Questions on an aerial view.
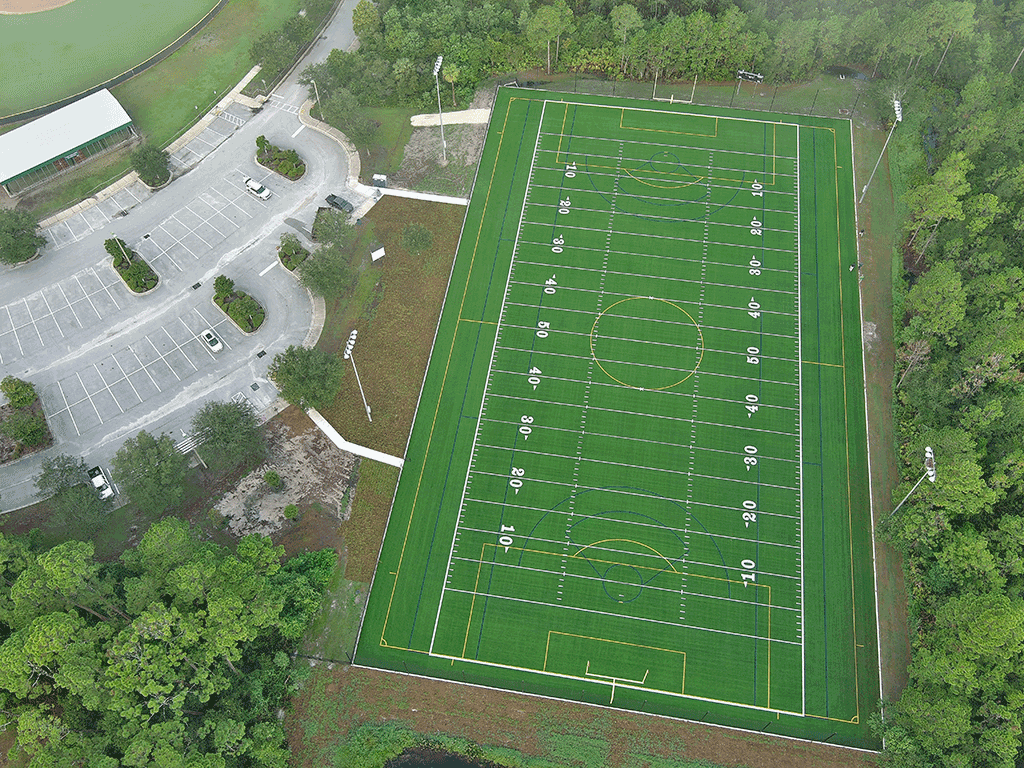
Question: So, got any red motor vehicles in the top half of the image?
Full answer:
No, I can find no red motor vehicle in the top half of the image.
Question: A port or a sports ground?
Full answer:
It's a sports ground.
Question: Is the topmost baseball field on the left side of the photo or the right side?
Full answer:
The topmost baseball field appears in the left half of the scene.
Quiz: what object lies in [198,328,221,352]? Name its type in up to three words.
car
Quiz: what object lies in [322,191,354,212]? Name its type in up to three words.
truck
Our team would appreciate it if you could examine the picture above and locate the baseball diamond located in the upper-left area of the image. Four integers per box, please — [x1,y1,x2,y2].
[0,0,228,115]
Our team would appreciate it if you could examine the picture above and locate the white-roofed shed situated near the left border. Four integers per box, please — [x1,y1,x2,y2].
[0,87,144,198]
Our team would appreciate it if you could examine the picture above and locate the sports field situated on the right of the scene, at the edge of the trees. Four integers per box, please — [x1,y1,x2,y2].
[349,84,883,751]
